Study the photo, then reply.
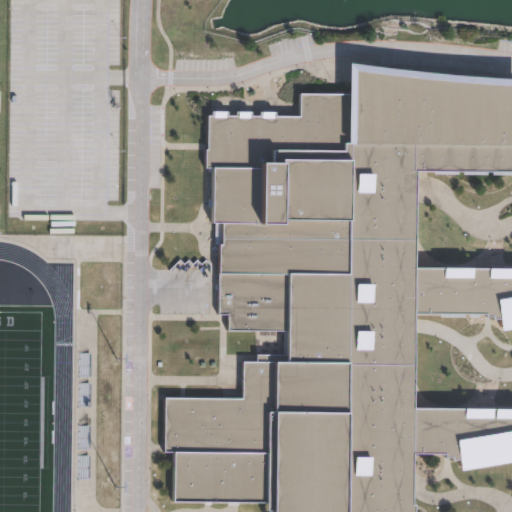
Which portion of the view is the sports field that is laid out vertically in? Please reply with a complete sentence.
Look in the bottom left portion of the view to spot the sports field that is laid out vertically.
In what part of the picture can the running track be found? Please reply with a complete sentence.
Look in the bottom left portion of the view to spot the running track.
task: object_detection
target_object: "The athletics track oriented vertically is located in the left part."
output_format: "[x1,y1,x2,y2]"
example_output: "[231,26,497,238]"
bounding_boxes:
[0,244,74,512]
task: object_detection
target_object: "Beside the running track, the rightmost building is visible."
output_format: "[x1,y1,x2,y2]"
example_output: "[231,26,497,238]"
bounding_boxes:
[164,64,512,512]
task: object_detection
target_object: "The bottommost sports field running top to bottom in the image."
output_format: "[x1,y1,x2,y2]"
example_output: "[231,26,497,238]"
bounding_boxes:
[0,306,54,512]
